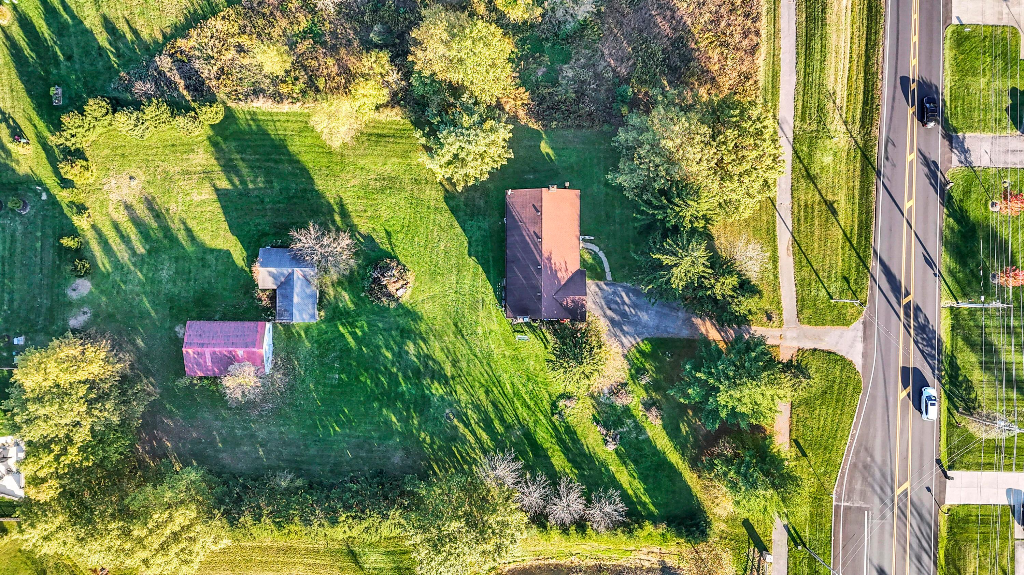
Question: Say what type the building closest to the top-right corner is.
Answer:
home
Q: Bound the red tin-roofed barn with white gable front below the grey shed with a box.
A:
[182,321,273,377]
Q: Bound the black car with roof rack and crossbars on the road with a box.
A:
[924,94,943,128]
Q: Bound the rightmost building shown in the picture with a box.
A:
[505,183,587,322]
